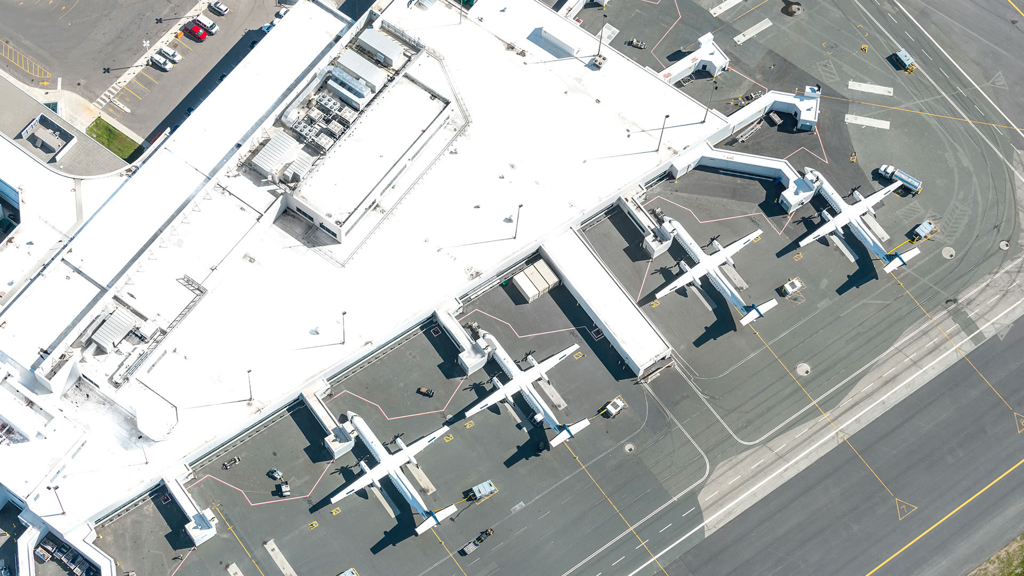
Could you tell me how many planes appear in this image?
4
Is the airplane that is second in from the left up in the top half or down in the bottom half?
bottom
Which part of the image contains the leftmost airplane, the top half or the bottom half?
bottom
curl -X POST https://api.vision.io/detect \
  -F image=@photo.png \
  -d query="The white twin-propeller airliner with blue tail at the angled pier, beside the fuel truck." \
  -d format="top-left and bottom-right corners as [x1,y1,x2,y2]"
[799,167,920,273]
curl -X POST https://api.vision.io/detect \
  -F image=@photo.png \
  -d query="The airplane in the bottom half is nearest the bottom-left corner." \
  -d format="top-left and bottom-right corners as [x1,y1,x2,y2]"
[329,411,458,535]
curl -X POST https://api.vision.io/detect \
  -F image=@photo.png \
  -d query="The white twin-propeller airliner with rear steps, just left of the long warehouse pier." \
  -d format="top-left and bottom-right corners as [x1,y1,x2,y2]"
[464,329,590,447]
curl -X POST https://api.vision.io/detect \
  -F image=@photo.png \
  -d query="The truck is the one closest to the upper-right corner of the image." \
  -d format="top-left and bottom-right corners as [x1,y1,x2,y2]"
[893,49,917,74]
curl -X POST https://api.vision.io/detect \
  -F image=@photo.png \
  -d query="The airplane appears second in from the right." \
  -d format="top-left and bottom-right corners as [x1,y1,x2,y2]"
[655,216,778,326]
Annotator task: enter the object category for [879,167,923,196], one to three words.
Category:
truck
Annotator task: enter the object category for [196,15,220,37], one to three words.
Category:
car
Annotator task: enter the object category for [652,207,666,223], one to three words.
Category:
work vehicle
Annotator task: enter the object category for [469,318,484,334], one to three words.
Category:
work vehicle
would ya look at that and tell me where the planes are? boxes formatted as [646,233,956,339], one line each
[655,216,778,326]
[799,167,920,273]
[329,411,458,535]
[464,329,590,447]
